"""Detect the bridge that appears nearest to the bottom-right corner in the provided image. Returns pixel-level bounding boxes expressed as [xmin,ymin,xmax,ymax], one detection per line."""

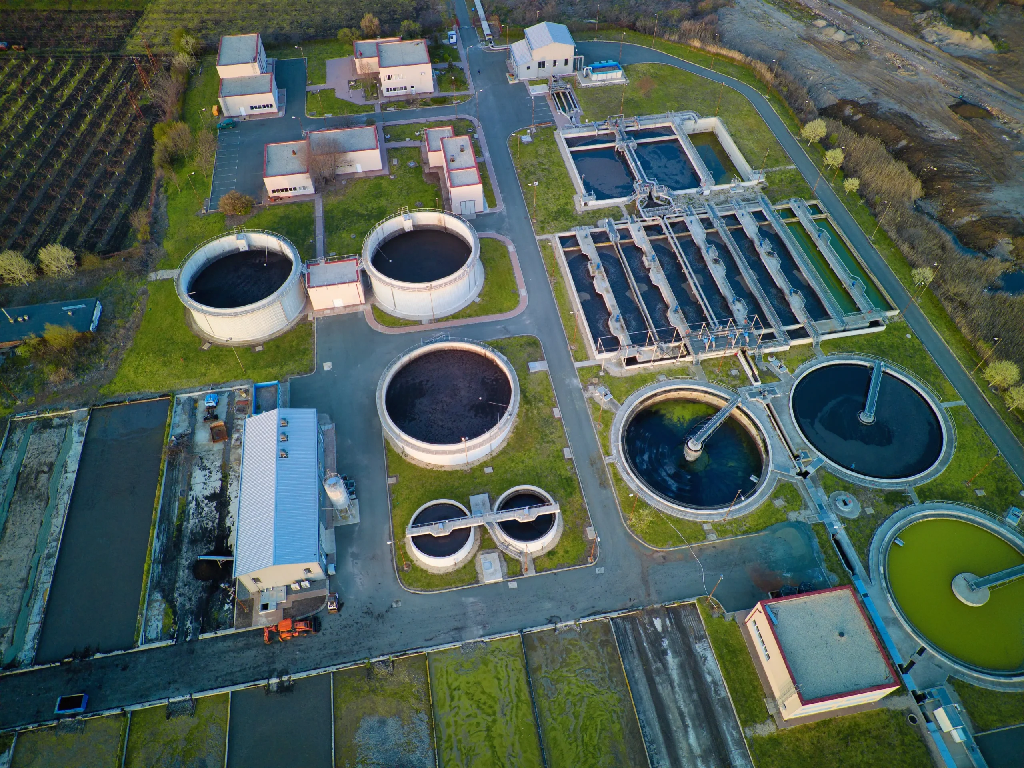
[971,559,1024,591]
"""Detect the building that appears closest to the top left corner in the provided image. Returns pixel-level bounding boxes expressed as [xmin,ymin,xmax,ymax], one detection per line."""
[216,32,278,116]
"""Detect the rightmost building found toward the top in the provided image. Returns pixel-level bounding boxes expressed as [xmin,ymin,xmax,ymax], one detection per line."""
[509,20,584,79]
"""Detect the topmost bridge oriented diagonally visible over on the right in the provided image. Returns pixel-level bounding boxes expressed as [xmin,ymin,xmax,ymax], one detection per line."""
[687,393,740,448]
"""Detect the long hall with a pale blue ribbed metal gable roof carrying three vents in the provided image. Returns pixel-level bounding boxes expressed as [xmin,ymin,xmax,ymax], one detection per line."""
[193,405,326,591]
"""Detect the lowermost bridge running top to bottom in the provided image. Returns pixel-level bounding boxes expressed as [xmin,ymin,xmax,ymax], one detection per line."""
[865,355,888,418]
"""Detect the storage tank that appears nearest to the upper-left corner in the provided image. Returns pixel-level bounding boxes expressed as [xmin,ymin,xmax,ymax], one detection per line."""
[172,222,311,344]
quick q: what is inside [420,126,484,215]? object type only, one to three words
building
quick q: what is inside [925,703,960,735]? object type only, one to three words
shed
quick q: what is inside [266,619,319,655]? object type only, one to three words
work vehicle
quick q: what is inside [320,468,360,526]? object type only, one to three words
silo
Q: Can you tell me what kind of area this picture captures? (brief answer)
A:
industrial area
